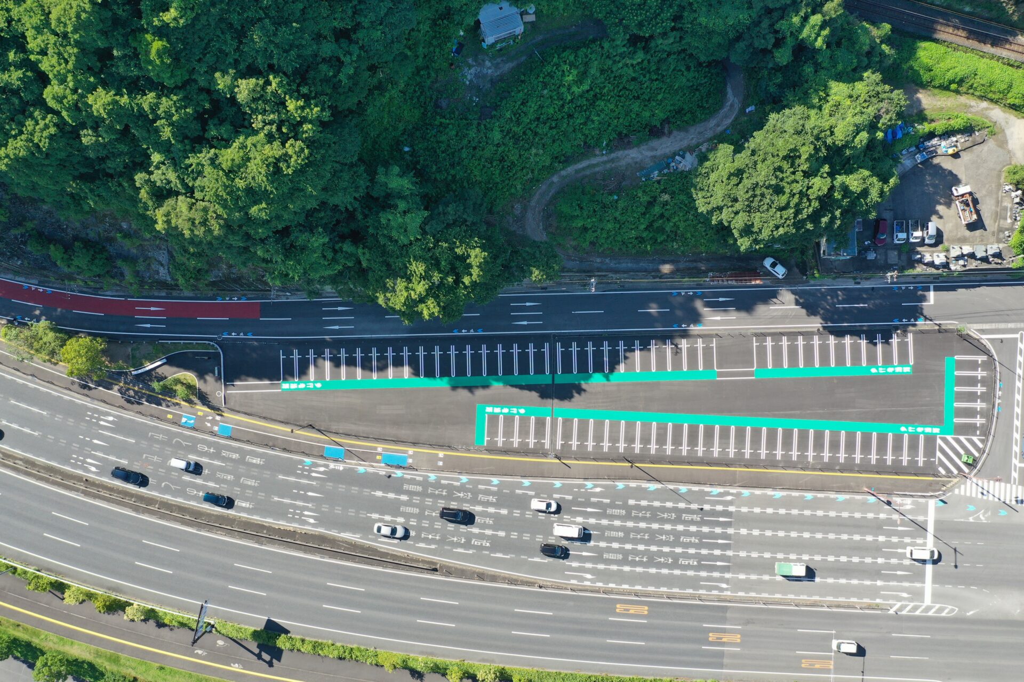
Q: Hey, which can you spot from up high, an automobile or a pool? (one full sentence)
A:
The image shows an automobile.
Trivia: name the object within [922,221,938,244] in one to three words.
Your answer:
vehicle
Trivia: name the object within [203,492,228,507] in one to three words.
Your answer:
car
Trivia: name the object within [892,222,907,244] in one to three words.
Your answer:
vehicle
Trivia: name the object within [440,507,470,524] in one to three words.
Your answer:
car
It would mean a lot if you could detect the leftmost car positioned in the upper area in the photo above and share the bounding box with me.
[762,256,787,280]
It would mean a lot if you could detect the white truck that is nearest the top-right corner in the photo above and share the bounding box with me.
[950,185,978,224]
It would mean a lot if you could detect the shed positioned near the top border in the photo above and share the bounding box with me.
[479,1,524,42]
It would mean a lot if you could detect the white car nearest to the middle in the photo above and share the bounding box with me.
[531,498,557,513]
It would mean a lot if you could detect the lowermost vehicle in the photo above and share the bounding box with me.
[832,639,856,653]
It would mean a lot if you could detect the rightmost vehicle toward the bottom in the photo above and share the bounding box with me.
[906,547,936,561]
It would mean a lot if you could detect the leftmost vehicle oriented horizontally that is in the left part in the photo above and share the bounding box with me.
[110,466,143,483]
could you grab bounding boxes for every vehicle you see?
[440,507,470,524]
[531,498,557,513]
[906,547,936,561]
[907,220,923,243]
[554,523,582,539]
[950,185,978,224]
[110,466,143,483]
[170,456,196,471]
[762,256,787,280]
[203,492,228,507]
[922,221,938,244]
[374,522,405,538]
[776,562,804,578]
[832,639,856,653]
[541,543,565,558]
[892,222,907,244]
